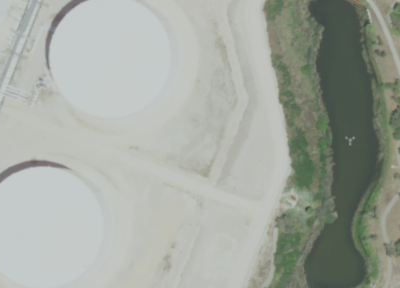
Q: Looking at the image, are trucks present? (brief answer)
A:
No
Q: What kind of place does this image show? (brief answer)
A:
industrial area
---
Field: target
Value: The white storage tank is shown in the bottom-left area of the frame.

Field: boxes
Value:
[0,166,114,288]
